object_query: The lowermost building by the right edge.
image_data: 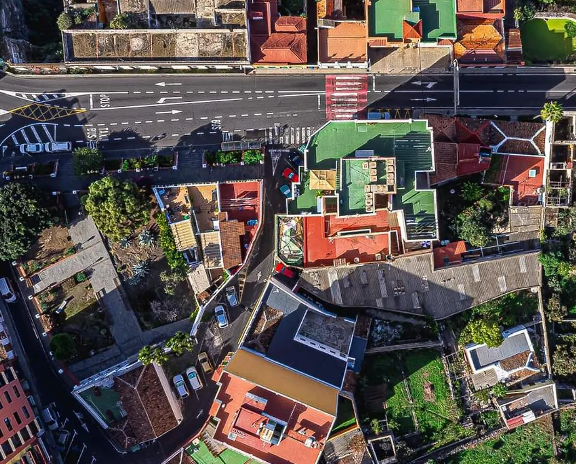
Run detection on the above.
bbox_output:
[497,376,560,429]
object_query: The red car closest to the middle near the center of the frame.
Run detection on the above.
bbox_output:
[274,262,297,279]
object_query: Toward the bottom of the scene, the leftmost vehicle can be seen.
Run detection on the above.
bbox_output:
[0,276,18,304]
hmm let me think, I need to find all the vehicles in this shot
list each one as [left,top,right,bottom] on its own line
[198,351,215,375]
[225,284,238,307]
[368,109,390,119]
[287,147,305,167]
[277,180,294,198]
[187,364,203,390]
[45,141,72,152]
[216,304,229,328]
[280,163,299,184]
[175,373,189,395]
[20,142,43,153]
[274,262,297,279]
[0,276,18,304]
